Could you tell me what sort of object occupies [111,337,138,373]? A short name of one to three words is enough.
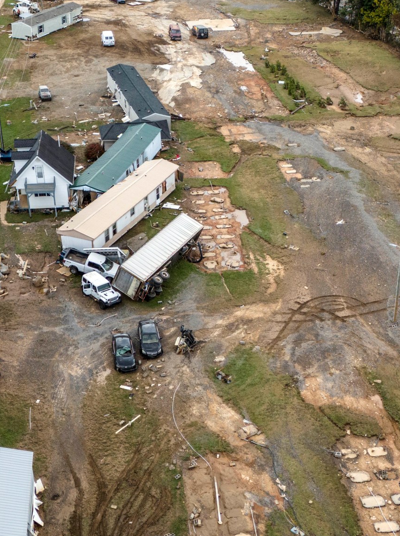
car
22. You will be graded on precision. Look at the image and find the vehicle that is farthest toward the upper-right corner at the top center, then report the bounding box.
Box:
[193,27,208,40]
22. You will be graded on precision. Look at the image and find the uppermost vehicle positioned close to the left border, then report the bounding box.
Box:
[7,0,43,15]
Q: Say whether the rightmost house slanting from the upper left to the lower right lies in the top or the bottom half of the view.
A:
top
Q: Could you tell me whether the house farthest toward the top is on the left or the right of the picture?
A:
left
